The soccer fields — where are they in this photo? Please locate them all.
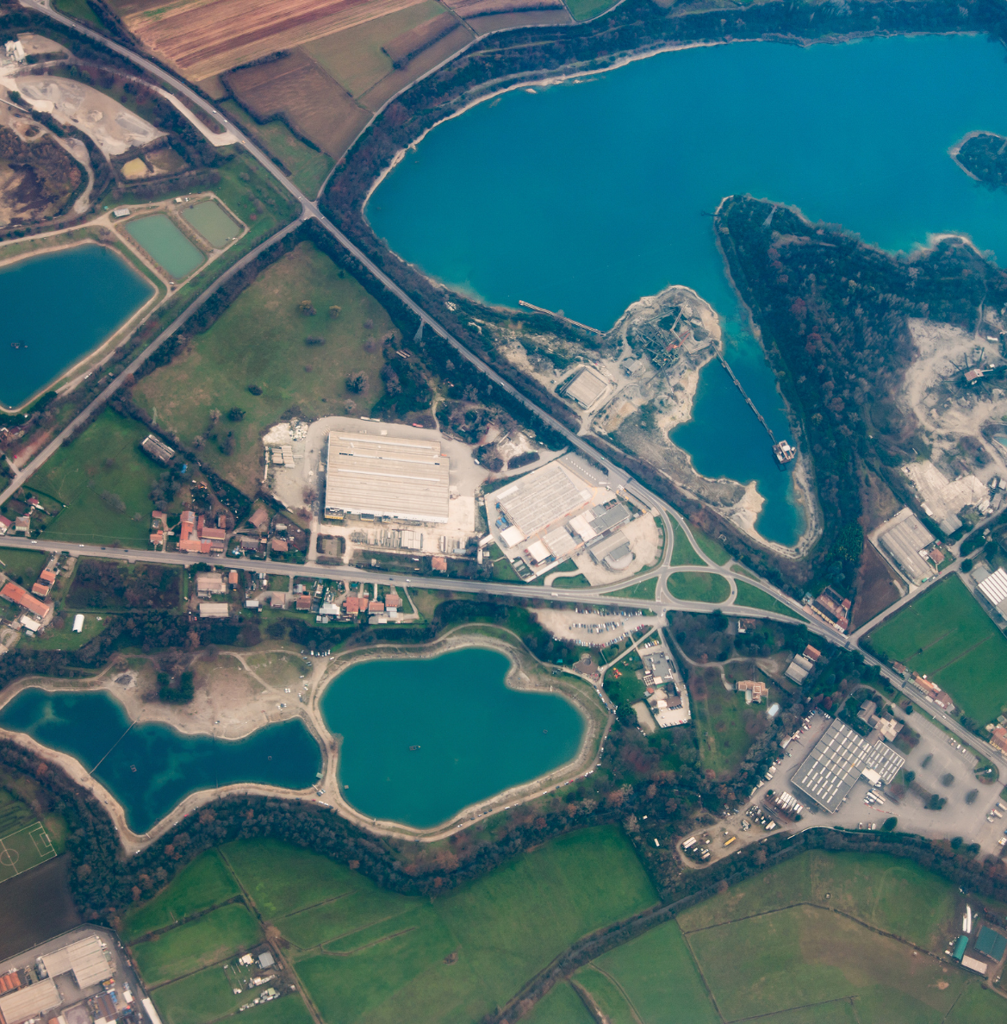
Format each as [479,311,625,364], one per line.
[0,817,59,885]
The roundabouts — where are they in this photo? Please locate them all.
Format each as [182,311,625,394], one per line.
[656,566,737,609]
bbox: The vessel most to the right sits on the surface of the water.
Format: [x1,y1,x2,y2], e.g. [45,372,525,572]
[771,440,796,471]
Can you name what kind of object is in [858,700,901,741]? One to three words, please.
house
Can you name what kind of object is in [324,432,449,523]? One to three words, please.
building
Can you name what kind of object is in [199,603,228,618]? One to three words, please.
shed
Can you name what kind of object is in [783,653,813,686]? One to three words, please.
barn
